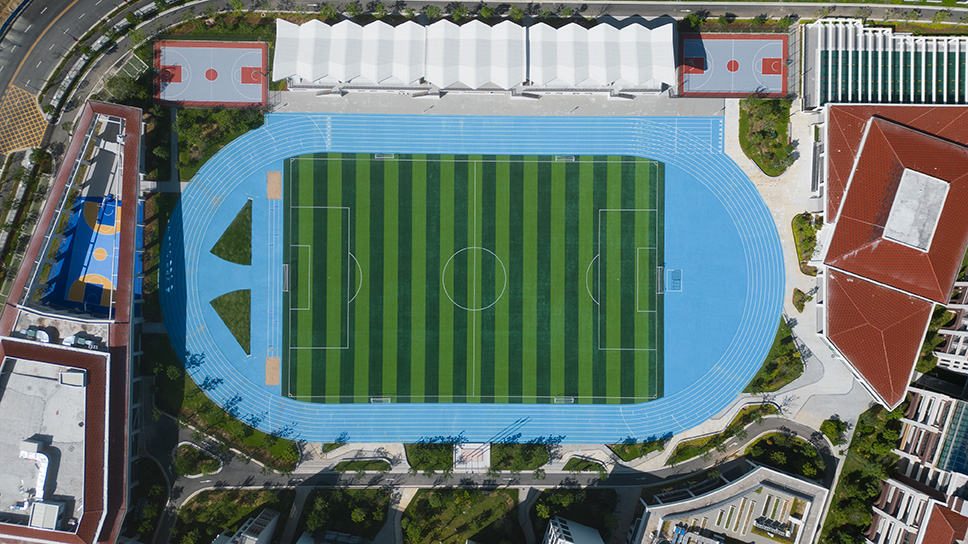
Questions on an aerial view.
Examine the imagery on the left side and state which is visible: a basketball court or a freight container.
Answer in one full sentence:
The one visible on the left side is a basketball court.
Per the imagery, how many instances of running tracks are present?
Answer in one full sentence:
The photo contains exactly 1 running track.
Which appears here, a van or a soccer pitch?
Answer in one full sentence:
It is a soccer pitch that can be seen here.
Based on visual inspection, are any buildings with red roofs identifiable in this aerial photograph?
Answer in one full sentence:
Yes, I can see a building with a red roof in this picture.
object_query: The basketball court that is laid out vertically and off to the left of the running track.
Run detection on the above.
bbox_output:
[69,202,119,307]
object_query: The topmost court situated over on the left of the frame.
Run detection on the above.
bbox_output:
[153,41,268,106]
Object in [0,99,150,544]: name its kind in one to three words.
building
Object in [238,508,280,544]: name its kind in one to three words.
building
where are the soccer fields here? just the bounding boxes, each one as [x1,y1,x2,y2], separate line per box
[282,150,666,405]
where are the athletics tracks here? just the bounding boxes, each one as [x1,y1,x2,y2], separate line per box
[159,112,784,444]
